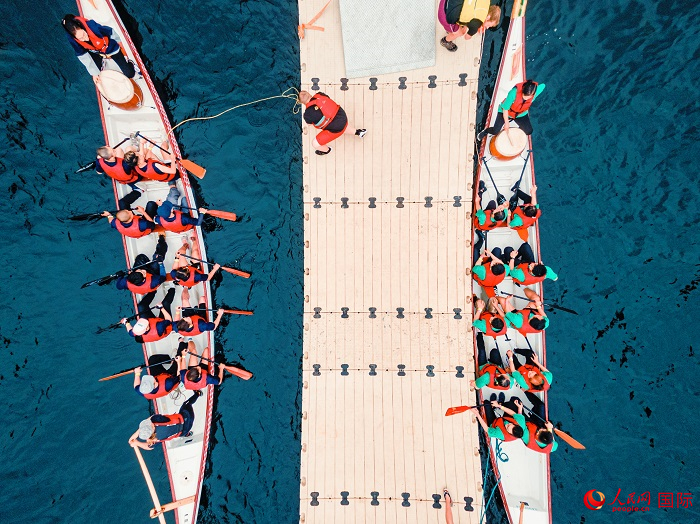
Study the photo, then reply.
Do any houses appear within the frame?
No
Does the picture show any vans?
No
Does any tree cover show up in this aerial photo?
No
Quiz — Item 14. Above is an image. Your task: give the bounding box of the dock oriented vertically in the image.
[297,0,487,524]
